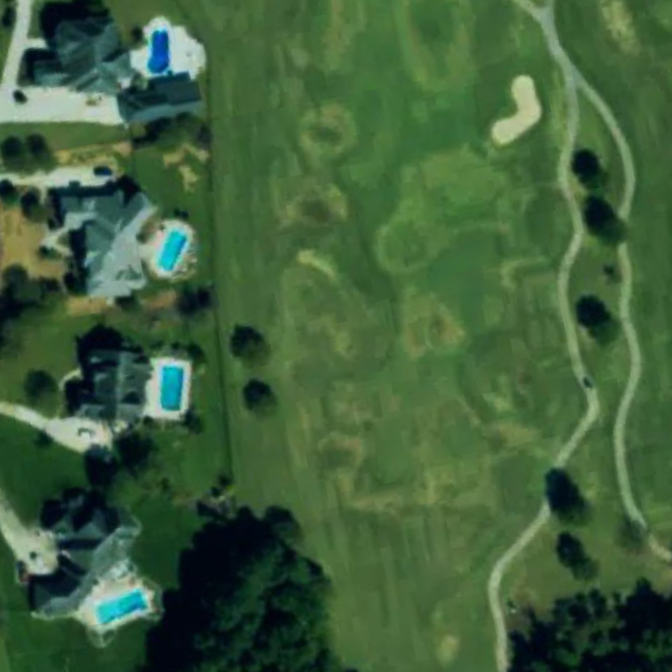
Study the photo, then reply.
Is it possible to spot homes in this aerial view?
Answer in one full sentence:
Yes, there's a home down there.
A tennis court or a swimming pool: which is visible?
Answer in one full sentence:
The image shows a swimming pool.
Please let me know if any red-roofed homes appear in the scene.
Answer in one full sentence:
No, there is no red-roofed home in the image.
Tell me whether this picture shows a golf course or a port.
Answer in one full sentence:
The area seen from above is a golf course.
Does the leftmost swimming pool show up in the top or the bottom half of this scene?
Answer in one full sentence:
The bottom half of the photo is where the leftmost swimming pool is.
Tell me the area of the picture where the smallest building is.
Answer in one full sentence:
Look in the top left portion of the view to spot the smallest building.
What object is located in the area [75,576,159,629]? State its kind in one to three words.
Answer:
swimming pool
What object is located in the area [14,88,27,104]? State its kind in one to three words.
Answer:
vehicle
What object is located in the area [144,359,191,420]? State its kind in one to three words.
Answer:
swimming pool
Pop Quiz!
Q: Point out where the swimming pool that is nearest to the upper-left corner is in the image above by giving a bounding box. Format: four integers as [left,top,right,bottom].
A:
[135,17,207,81]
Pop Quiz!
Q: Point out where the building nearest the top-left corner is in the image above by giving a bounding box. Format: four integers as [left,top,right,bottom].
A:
[27,6,135,102]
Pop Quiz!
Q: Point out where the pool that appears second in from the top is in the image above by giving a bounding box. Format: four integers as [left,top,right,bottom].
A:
[141,219,195,280]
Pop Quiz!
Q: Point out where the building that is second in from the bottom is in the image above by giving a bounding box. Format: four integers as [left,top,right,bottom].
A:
[64,348,149,423]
